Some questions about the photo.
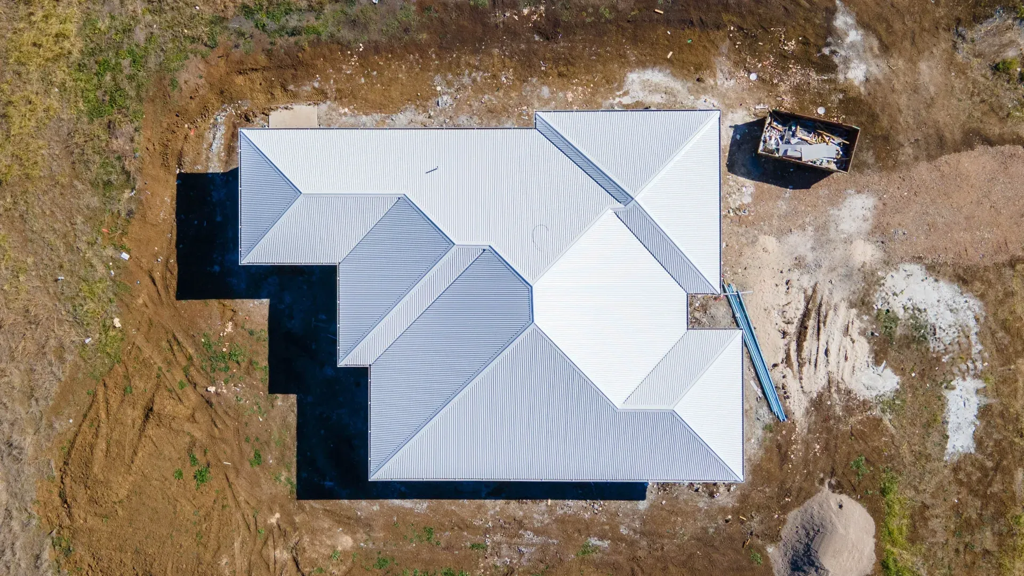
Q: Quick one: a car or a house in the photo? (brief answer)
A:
house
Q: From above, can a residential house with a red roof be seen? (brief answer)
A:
No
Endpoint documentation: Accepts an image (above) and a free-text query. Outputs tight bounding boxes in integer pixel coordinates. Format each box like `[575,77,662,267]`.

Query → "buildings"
[239,110,743,481]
